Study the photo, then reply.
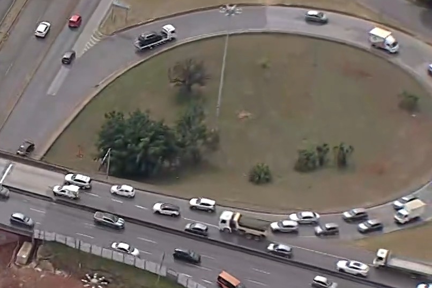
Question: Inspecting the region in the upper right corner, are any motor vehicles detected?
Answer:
Yes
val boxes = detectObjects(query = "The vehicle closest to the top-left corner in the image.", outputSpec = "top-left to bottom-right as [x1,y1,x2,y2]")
[35,23,49,37]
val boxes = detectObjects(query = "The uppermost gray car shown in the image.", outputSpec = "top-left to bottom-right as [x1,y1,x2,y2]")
[304,10,327,22]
